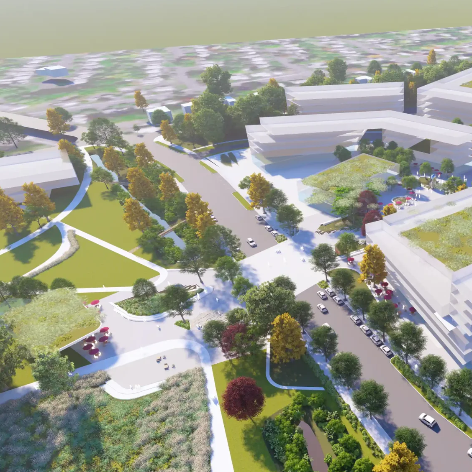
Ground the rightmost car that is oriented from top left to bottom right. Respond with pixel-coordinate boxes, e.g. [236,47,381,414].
[421,413,437,430]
